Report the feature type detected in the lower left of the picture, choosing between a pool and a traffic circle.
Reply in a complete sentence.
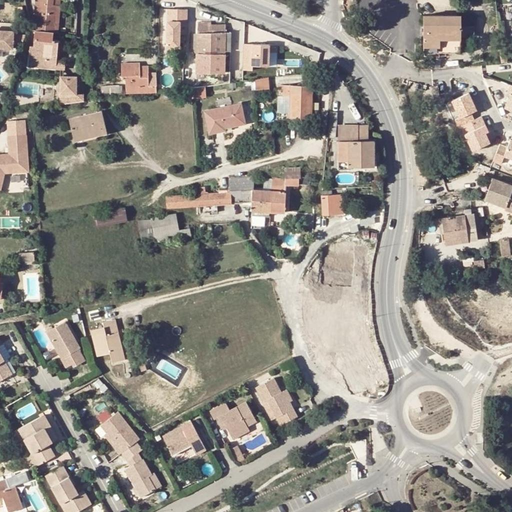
What appears in the lower left of the picture is a pool.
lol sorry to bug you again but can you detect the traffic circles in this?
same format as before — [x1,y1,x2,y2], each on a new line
[388,370,474,456]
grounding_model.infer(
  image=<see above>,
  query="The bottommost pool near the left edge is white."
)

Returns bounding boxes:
[25,481,51,512]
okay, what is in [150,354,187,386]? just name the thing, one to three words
swimming pool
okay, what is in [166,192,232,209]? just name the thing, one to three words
building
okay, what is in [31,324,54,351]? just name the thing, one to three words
swimming pool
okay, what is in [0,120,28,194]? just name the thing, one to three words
house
